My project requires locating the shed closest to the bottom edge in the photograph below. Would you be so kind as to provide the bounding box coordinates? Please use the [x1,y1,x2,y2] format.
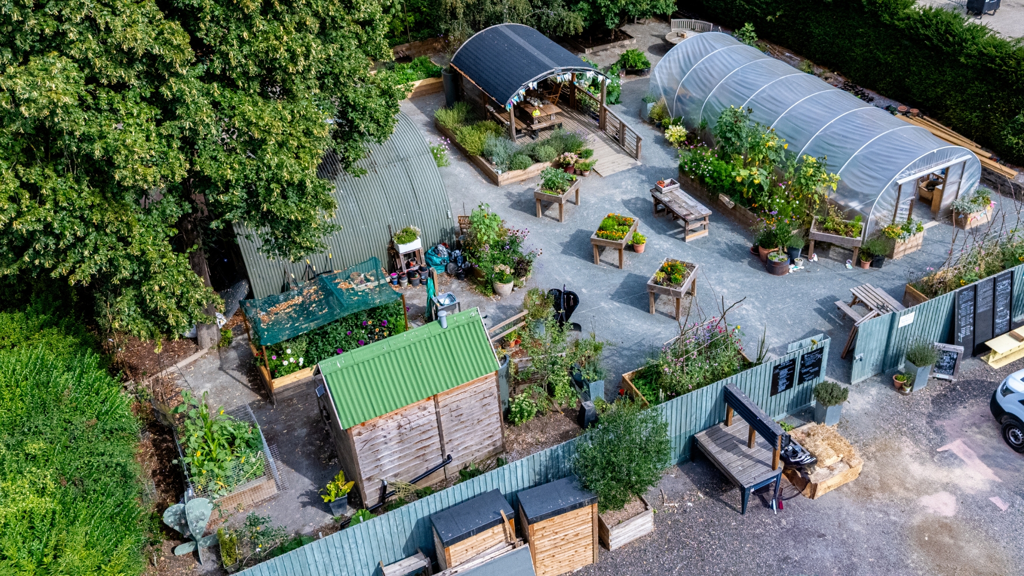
[311,305,507,517]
